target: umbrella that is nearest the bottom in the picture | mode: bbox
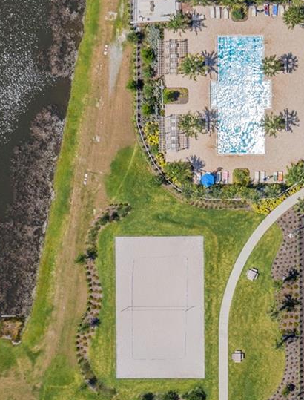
[201,172,216,187]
